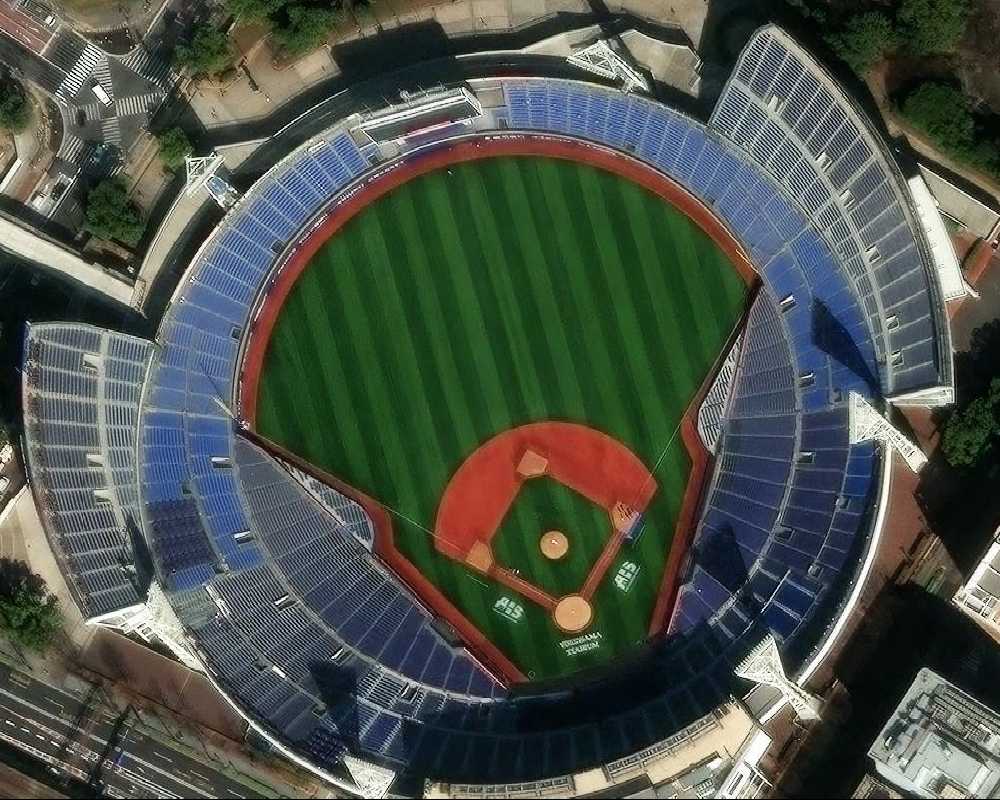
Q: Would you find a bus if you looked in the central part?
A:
No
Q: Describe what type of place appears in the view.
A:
sports ground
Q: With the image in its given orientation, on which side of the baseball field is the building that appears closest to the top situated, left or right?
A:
to the right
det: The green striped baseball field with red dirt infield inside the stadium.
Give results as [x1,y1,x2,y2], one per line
[240,140,763,703]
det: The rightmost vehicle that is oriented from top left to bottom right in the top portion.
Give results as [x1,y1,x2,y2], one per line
[90,83,111,106]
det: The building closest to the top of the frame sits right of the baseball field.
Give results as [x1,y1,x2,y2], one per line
[918,164,1000,245]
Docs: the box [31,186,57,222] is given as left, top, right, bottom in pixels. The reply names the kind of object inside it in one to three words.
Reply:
bus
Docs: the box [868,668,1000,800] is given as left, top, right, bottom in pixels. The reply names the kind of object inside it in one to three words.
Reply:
building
